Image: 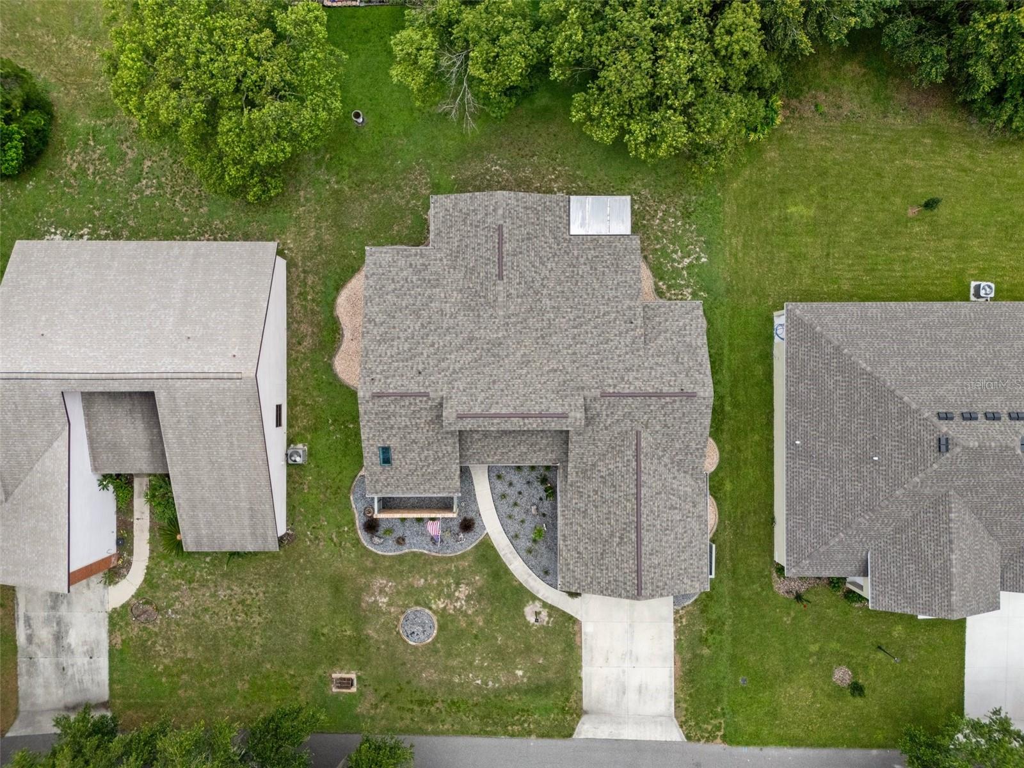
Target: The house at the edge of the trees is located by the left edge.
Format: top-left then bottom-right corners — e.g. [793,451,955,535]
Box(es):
[0,239,288,592]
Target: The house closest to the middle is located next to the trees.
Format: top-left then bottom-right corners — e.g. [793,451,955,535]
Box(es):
[357,191,713,599]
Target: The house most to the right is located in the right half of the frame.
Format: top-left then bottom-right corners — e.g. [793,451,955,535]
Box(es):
[774,301,1024,619]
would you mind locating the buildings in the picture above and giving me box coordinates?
[774,301,1024,619]
[357,191,713,599]
[0,239,288,592]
